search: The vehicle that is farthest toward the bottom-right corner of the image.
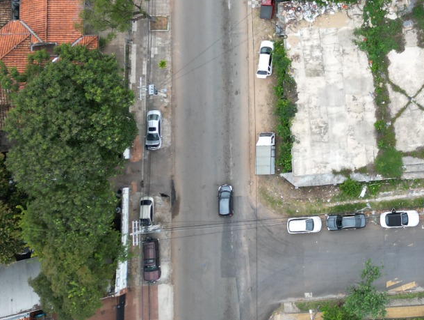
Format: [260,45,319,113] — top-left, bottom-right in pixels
[381,209,420,229]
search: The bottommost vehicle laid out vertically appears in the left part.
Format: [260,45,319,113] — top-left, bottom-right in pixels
[139,236,161,282]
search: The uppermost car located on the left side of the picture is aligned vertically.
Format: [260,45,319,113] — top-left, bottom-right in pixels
[142,110,164,150]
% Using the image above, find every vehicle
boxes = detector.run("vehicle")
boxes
[135,196,155,229]
[139,236,161,282]
[326,212,366,233]
[142,110,164,150]
[254,39,275,78]
[287,216,323,235]
[252,131,275,176]
[215,184,235,217]
[381,209,420,229]
[259,0,276,20]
